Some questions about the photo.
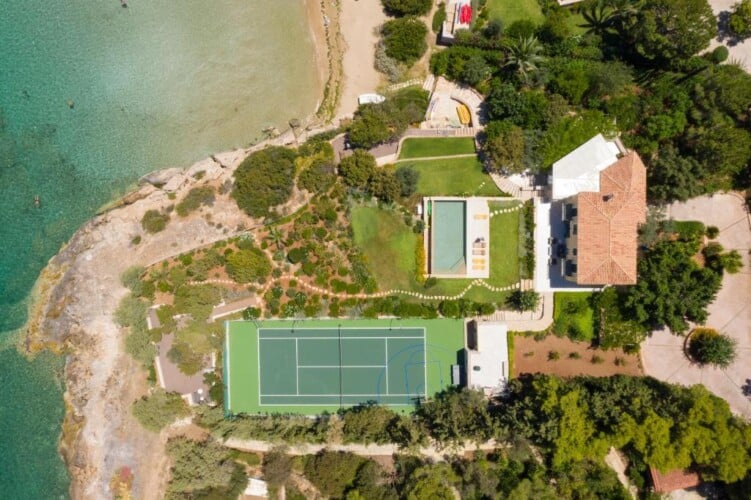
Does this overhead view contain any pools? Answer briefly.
Yes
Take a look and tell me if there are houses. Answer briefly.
Yes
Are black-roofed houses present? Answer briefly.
No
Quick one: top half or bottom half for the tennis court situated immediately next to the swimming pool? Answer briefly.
bottom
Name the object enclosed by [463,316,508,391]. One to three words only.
building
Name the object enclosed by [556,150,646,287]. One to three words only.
house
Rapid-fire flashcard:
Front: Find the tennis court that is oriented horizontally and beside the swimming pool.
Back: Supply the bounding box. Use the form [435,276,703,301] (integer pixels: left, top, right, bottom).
[230,320,466,415]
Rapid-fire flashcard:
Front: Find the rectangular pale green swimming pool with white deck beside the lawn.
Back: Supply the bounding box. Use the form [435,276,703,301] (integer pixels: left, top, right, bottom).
[423,194,511,278]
